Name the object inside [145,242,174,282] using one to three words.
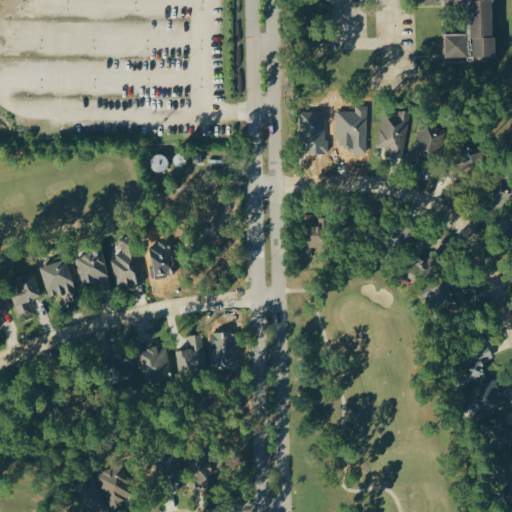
house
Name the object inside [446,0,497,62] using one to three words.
building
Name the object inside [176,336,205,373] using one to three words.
house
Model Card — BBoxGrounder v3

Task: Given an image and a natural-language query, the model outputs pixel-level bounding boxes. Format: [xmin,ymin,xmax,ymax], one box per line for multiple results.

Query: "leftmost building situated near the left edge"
[10,273,46,322]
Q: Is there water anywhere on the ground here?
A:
No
